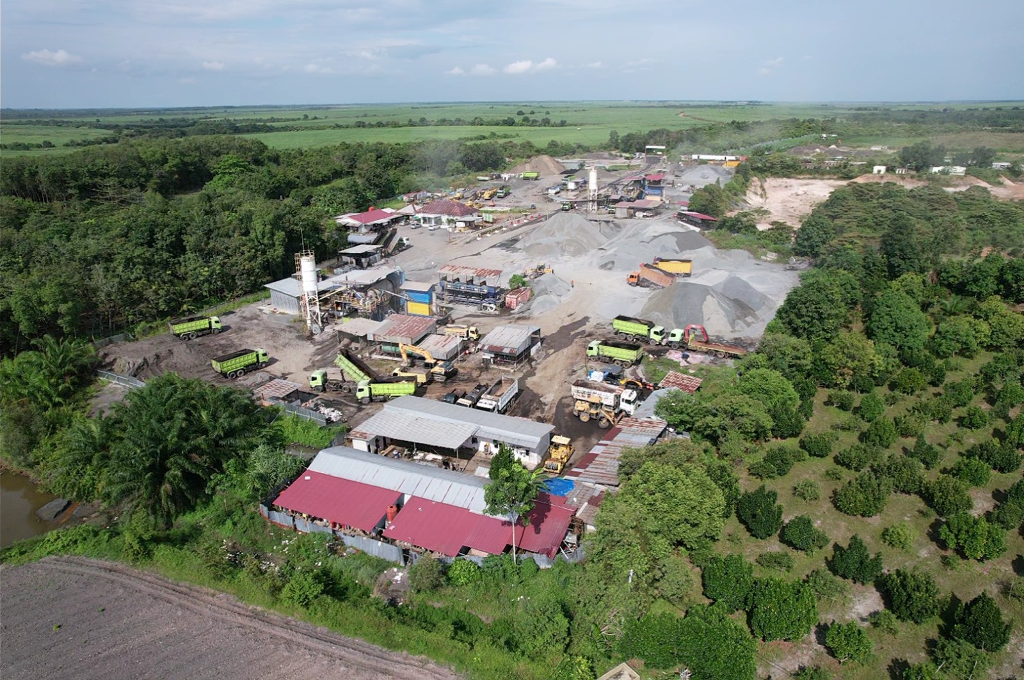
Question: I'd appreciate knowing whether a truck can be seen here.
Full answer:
Yes, there's a truck here.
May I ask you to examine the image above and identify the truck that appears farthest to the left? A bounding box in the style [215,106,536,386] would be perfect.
[171,312,226,338]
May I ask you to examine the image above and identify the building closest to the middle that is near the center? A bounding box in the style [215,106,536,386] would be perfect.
[474,324,541,372]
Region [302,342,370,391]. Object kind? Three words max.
truck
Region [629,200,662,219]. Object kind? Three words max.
shed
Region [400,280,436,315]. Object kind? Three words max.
building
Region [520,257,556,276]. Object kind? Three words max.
work vehicle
